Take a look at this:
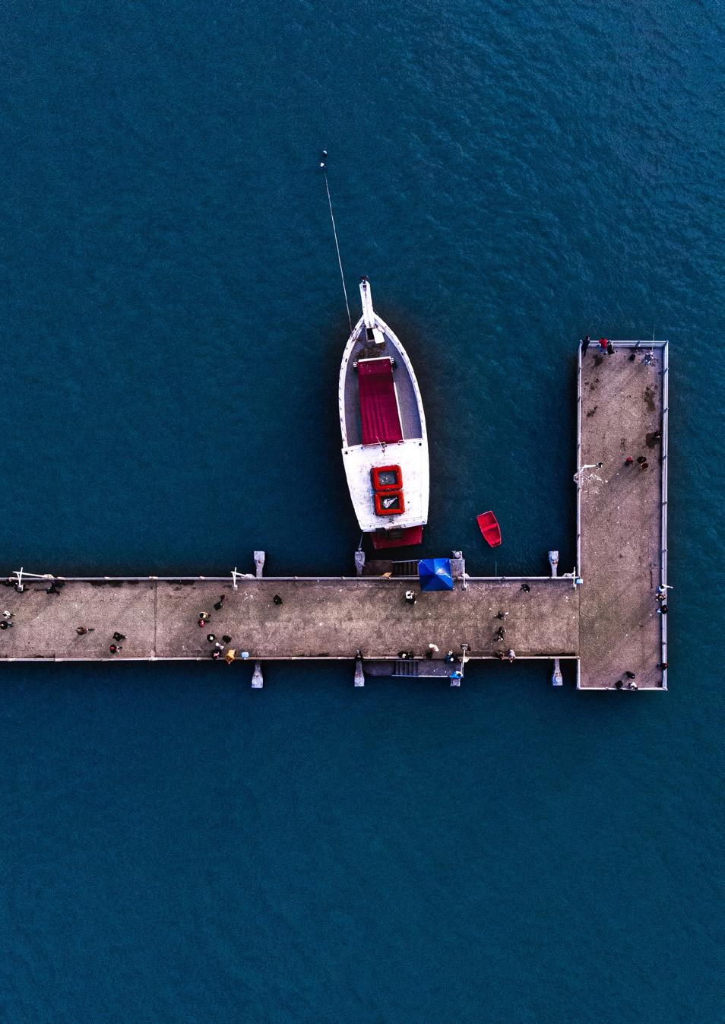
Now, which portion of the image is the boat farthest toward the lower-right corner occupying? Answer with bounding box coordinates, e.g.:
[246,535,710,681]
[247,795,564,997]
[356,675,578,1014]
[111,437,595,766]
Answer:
[477,511,501,547]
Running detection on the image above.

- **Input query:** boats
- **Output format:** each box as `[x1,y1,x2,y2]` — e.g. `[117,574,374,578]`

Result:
[339,276,429,549]
[477,511,501,547]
